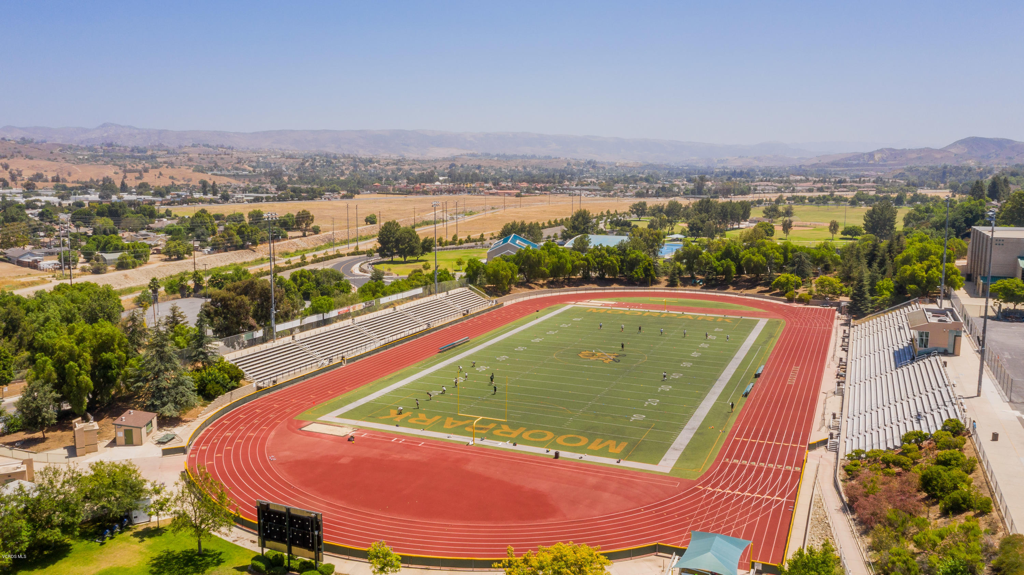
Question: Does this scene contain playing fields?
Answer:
Yes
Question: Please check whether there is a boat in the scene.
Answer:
No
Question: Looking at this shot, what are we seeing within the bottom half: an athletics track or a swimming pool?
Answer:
athletics track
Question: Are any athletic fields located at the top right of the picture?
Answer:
No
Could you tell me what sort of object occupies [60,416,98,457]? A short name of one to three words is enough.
building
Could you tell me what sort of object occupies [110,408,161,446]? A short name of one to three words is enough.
shed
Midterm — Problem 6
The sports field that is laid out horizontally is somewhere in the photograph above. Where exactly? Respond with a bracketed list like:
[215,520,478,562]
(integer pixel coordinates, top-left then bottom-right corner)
[294,303,787,479]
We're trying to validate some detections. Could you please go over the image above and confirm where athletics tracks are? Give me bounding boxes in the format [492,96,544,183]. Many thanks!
[186,291,836,565]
